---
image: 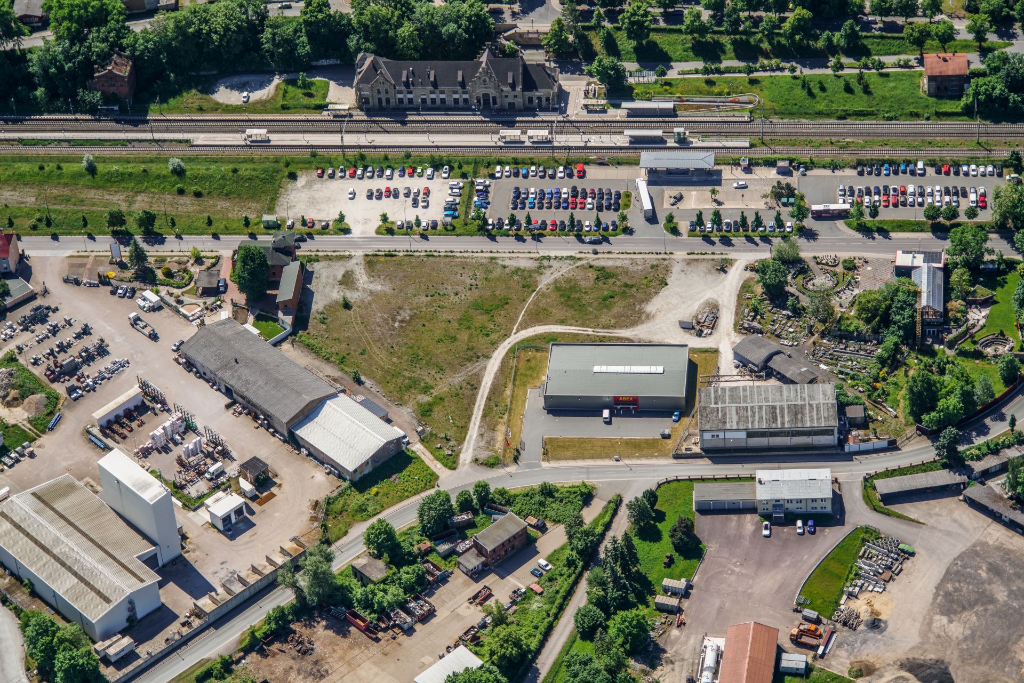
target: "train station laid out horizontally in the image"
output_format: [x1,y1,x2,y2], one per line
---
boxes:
[351,39,558,110]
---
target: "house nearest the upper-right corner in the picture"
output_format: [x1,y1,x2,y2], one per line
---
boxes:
[923,49,969,93]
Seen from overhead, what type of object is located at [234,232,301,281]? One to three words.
house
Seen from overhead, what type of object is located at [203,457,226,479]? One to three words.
truck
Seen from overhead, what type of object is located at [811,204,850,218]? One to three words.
vehicle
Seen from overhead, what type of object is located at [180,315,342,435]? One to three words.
warehouse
